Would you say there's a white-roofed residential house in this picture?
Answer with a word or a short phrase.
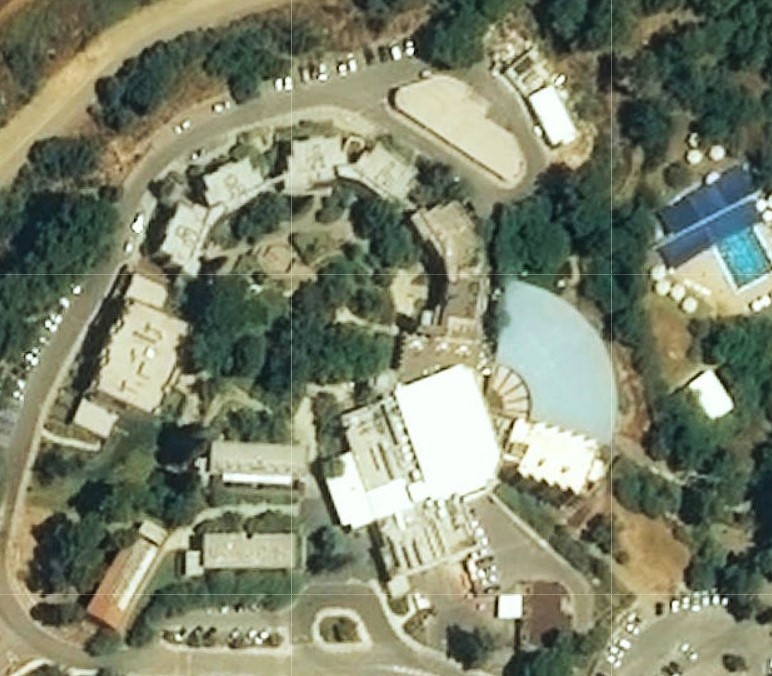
Yes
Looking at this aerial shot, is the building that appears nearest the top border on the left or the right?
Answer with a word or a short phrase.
right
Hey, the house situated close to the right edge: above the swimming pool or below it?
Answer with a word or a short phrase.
below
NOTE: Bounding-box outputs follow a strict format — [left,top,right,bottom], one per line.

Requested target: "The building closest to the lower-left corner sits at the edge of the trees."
[89,541,161,633]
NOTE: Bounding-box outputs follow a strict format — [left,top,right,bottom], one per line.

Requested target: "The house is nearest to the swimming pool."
[688,369,734,419]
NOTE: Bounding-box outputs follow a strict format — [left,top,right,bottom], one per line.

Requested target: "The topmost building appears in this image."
[496,47,549,96]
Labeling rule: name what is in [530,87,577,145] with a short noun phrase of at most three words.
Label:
shed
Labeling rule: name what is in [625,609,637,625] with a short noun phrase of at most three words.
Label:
vehicle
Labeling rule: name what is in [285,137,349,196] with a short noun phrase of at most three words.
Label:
building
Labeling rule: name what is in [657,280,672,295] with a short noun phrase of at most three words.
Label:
umbrella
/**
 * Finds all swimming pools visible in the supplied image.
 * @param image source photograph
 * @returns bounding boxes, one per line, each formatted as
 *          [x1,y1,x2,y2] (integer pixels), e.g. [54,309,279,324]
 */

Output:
[675,205,772,317]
